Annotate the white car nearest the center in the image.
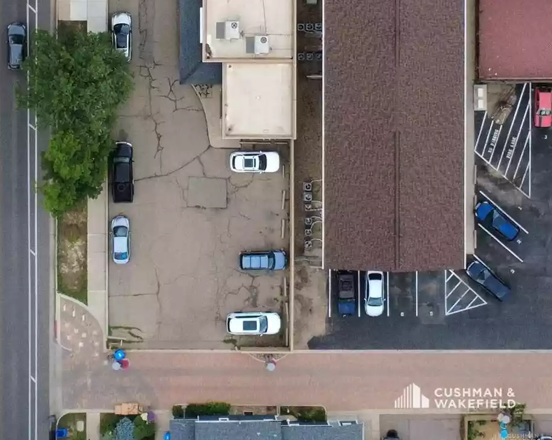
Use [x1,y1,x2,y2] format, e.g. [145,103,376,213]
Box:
[228,150,281,175]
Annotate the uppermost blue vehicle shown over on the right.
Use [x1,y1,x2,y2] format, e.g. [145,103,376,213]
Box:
[472,200,523,242]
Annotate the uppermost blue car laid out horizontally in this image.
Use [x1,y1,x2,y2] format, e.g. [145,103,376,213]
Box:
[237,248,288,273]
